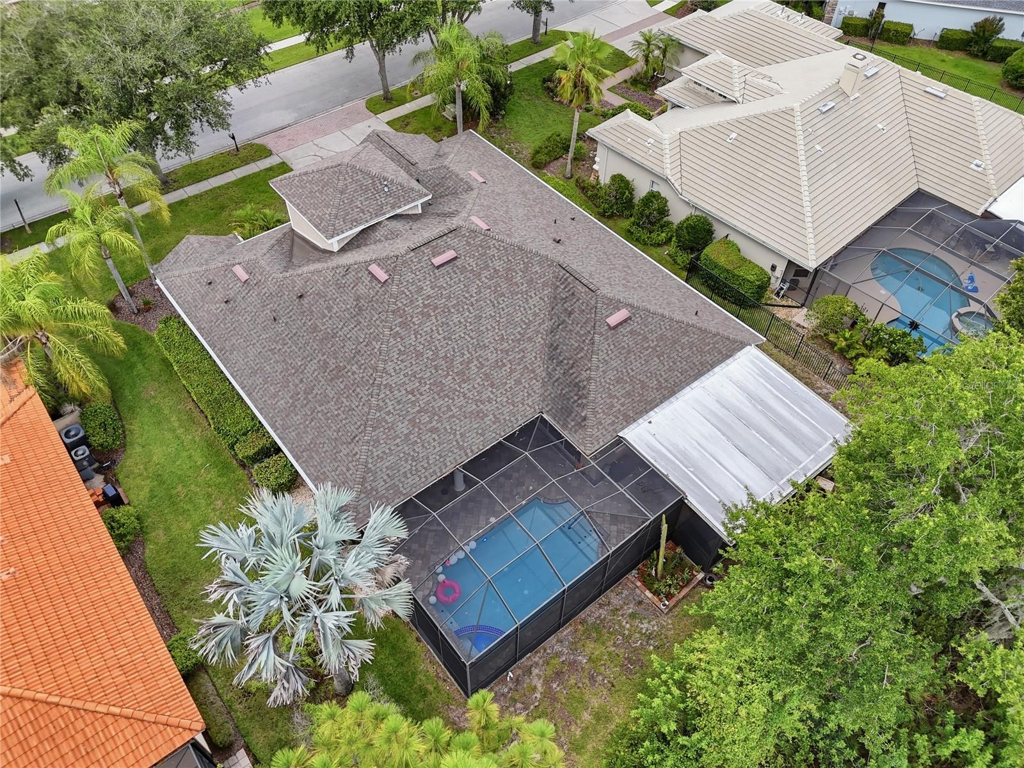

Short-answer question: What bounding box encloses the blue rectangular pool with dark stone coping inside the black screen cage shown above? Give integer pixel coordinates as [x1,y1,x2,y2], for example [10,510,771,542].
[418,494,613,659]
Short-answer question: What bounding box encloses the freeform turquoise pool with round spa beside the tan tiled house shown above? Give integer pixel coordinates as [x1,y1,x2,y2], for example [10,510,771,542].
[873,248,1002,345]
